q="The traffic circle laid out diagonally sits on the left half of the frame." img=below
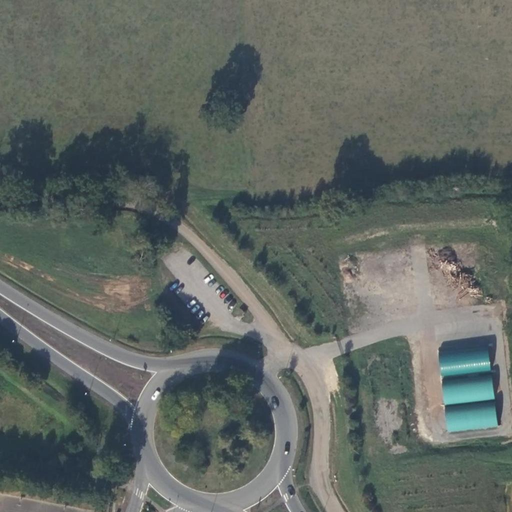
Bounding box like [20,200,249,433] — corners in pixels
[0,294,297,512]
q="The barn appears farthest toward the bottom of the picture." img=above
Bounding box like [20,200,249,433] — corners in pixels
[445,400,498,432]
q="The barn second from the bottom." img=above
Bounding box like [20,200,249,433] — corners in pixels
[442,371,495,404]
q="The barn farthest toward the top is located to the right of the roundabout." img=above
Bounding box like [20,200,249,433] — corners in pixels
[439,344,491,375]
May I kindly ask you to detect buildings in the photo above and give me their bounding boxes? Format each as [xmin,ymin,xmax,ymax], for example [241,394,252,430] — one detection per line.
[442,371,495,404]
[445,400,498,432]
[439,344,491,375]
